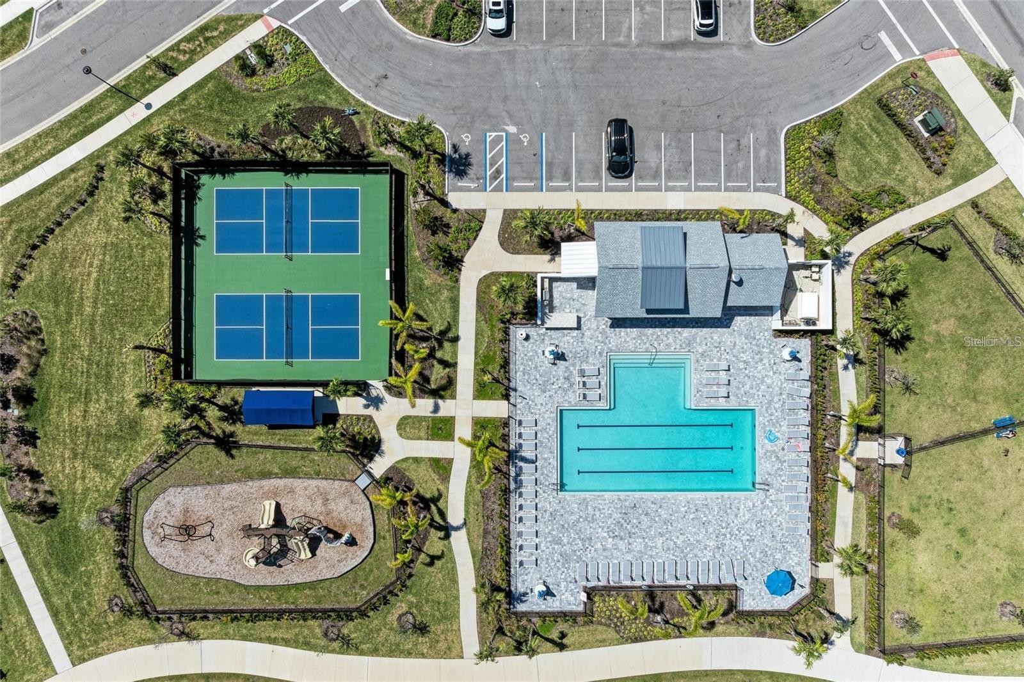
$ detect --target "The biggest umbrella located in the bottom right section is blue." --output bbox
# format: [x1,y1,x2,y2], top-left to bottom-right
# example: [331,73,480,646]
[766,570,792,596]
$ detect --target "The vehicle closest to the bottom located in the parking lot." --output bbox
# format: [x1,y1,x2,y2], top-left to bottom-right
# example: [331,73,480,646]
[607,121,632,176]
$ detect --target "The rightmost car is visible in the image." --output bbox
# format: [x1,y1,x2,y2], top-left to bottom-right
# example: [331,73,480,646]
[693,0,717,32]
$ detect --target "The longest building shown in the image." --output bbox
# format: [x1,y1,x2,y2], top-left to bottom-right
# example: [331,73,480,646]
[561,221,788,318]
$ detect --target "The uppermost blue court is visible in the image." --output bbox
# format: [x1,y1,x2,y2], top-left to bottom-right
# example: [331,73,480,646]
[215,187,360,254]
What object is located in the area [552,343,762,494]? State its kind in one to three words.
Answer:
swimming pool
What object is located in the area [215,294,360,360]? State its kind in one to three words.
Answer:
sports court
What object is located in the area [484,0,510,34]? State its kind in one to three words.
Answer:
car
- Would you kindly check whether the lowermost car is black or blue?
black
